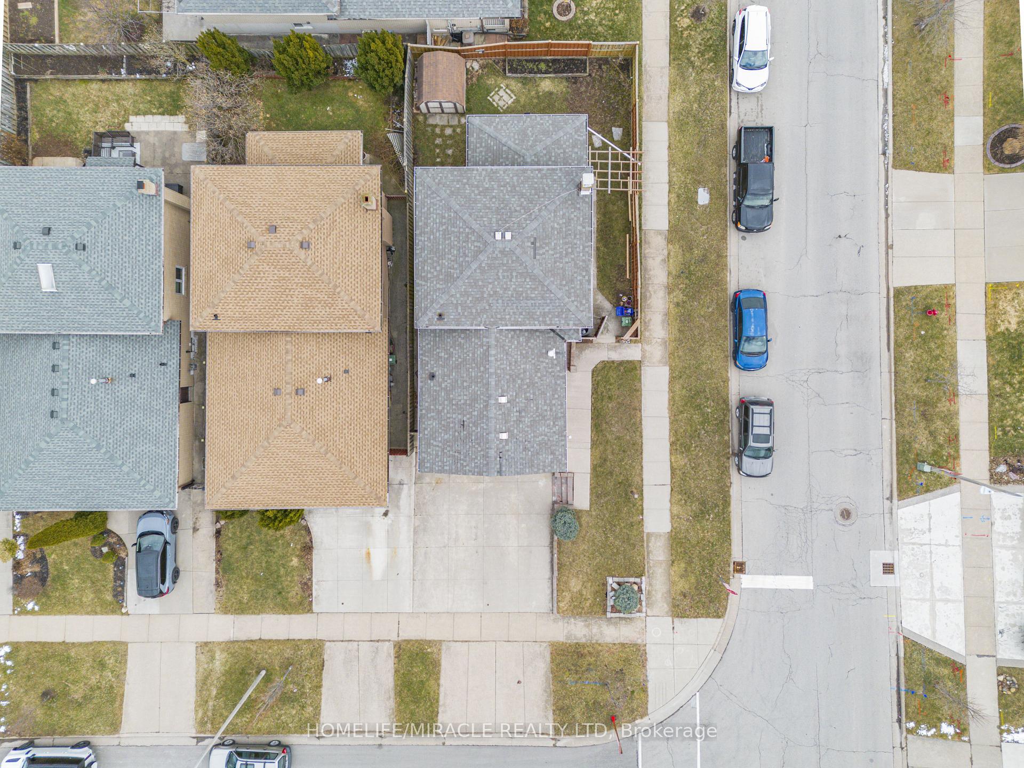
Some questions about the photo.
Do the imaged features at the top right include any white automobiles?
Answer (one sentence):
Yes, looking at the top right, one can make out a white automobile.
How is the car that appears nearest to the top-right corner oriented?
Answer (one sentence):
The car that appears nearest to the top-right corner has been laid out vertically relative to the frame.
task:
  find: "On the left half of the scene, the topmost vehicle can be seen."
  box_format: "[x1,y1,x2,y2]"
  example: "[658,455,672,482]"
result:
[129,513,178,599]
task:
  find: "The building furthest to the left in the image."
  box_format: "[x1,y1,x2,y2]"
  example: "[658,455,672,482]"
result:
[0,156,197,513]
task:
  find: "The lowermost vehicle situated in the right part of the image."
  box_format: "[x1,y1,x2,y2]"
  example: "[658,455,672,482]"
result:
[731,395,775,479]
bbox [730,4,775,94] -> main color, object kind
white car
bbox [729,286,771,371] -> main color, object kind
blue car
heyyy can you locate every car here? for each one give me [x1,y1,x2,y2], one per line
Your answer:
[730,4,775,94]
[729,286,771,371]
[129,513,178,599]
[0,741,99,768]
[731,395,775,479]
[209,739,294,768]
